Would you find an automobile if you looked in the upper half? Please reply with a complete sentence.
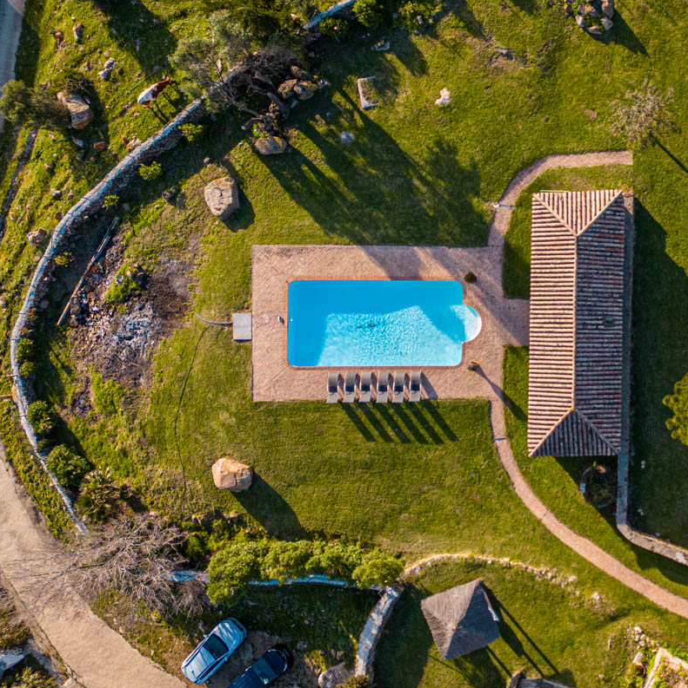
No, no automobile can be made out in the upper half.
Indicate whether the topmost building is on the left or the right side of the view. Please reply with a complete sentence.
The topmost building sits on the right side.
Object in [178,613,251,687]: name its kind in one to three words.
car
